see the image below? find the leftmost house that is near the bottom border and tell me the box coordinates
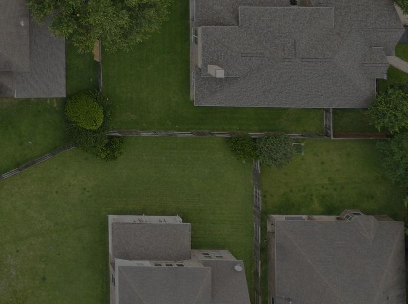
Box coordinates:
[105,215,248,304]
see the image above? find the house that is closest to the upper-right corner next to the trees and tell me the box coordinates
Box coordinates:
[186,0,408,108]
